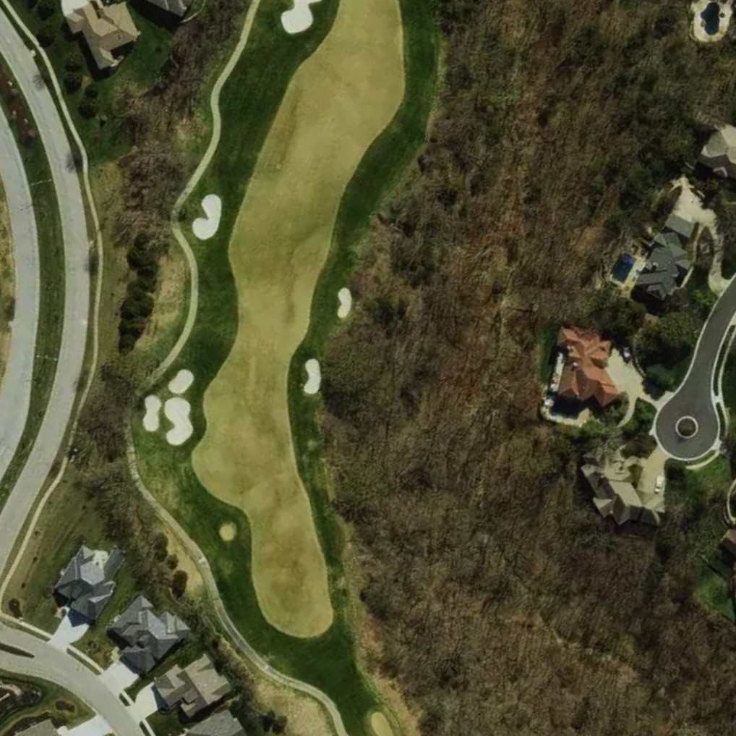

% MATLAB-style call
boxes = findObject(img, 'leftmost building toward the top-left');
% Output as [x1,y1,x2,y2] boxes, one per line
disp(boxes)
[62,0,138,70]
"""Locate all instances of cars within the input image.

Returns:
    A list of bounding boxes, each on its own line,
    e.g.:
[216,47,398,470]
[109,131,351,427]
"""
[655,477,663,493]
[621,346,630,360]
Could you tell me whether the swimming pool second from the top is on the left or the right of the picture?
right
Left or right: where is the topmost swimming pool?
right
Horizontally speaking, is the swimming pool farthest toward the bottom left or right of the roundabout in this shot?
on the left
